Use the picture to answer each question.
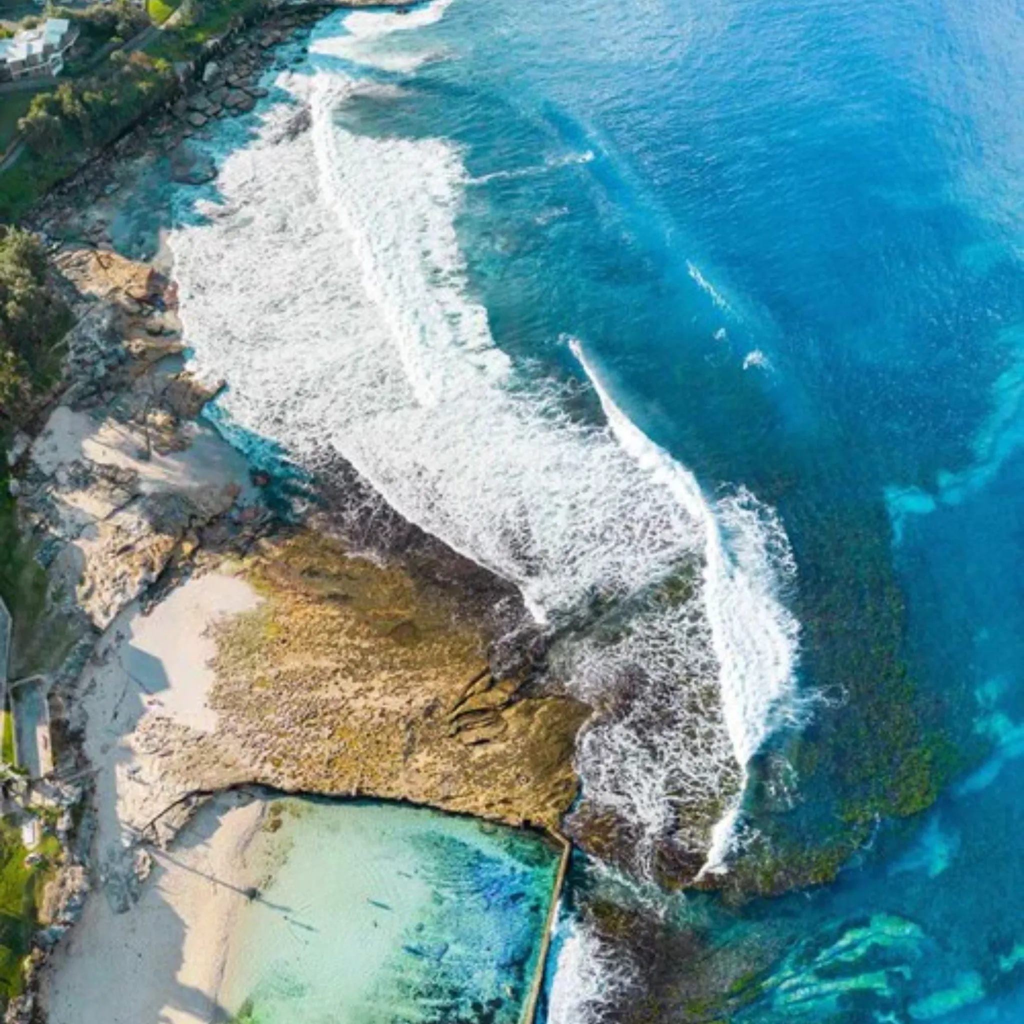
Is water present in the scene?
Yes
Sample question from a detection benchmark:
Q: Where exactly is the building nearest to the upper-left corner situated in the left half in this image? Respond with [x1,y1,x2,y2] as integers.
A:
[0,19,81,80]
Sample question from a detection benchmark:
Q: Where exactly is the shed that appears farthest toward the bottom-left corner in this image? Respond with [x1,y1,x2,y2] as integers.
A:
[22,821,45,850]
